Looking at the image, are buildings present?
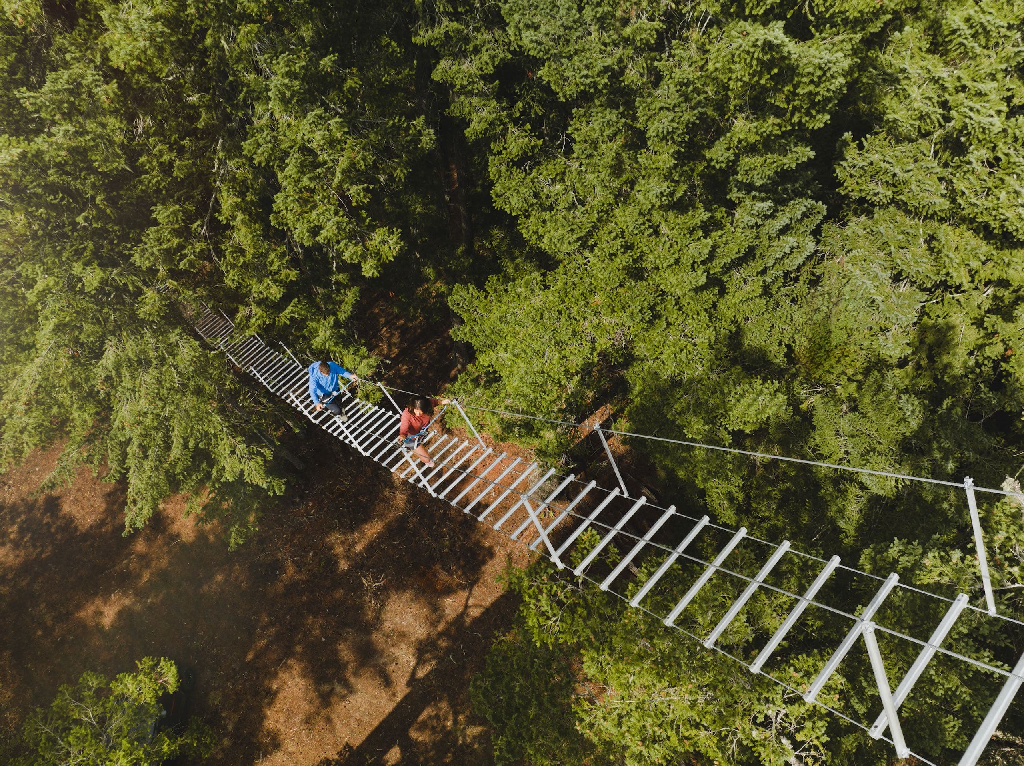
No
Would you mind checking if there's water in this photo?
No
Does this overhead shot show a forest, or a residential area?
forest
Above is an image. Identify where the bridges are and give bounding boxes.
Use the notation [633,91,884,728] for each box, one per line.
[175,292,1024,766]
